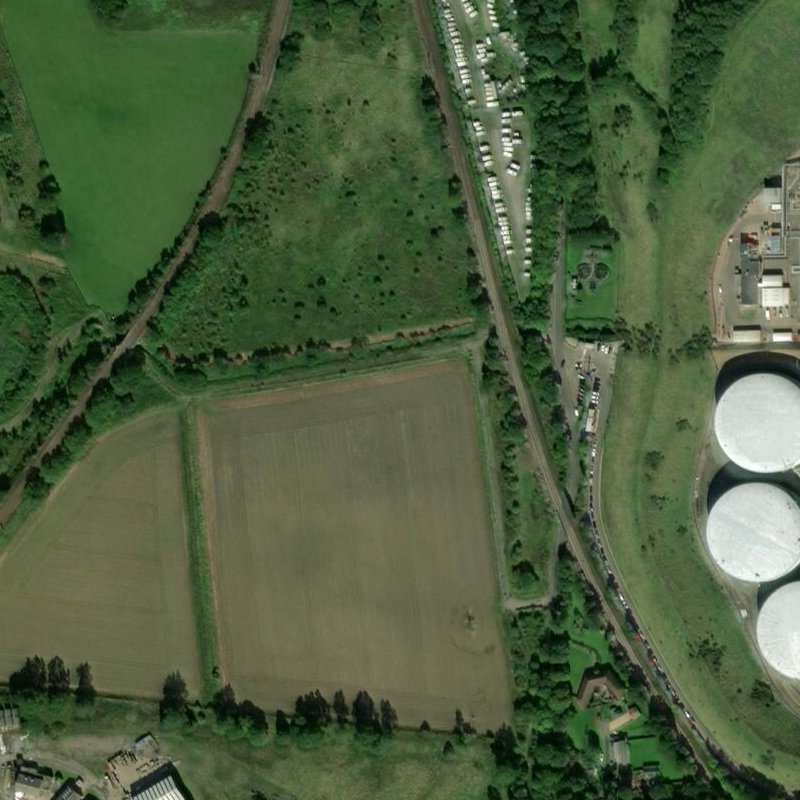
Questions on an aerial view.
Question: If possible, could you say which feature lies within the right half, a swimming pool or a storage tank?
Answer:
storage tank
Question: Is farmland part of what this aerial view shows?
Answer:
Yes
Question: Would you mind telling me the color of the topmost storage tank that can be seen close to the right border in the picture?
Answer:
white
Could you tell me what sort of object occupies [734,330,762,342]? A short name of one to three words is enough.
shed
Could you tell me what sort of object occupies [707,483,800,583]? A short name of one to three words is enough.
storage tank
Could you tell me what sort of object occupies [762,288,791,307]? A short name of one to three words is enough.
building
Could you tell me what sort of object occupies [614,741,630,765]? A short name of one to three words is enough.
barn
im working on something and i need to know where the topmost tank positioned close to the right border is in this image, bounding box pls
[715,372,800,473]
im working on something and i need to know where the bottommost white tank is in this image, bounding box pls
[755,581,800,681]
